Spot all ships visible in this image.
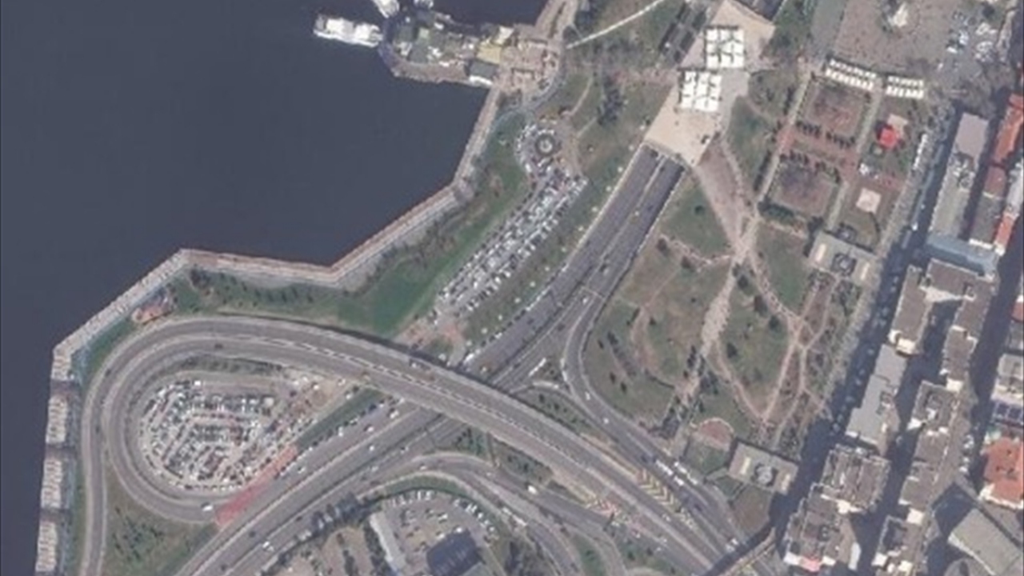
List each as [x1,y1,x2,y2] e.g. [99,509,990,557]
[375,0,403,18]
[413,0,435,9]
[313,13,383,46]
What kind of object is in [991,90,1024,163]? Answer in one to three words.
house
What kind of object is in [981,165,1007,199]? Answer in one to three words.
house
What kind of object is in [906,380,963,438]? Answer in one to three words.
building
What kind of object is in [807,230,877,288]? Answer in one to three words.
building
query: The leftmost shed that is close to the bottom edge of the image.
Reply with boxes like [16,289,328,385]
[370,512,409,576]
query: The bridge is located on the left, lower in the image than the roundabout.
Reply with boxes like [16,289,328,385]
[80,318,638,576]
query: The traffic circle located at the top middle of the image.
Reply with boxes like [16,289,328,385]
[524,124,568,165]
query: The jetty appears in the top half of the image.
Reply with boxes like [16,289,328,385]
[380,9,516,87]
